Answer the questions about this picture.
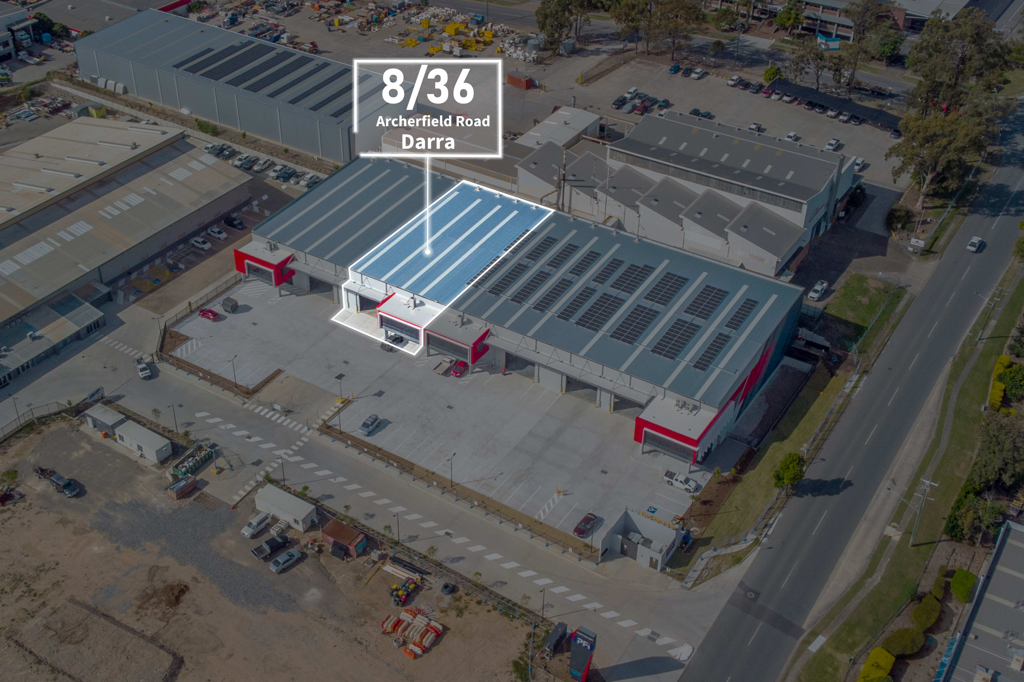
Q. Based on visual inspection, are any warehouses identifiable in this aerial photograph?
Yes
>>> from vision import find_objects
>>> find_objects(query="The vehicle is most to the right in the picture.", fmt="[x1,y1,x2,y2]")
[967,237,982,252]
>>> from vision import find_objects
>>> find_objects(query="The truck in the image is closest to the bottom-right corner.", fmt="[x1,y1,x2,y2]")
[662,468,698,493]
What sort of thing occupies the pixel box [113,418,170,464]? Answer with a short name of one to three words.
building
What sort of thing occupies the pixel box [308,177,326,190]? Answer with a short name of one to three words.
vehicle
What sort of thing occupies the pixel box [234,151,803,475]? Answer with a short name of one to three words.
warehouse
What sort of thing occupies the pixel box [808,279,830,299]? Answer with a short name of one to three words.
vehicle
